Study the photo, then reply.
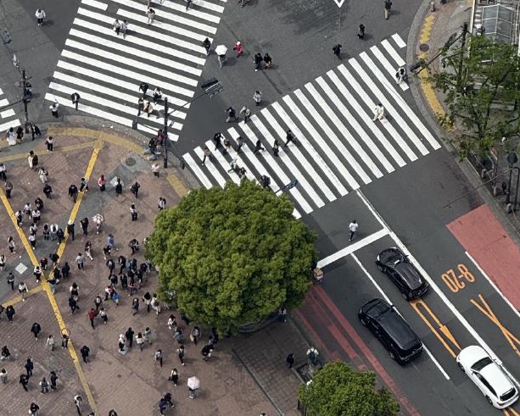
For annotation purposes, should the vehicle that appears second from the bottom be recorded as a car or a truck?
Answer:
car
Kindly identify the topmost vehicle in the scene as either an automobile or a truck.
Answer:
automobile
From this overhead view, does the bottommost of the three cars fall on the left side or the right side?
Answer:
right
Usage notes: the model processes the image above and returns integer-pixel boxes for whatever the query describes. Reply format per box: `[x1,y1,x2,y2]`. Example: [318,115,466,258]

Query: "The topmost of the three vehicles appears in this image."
[374,245,431,307]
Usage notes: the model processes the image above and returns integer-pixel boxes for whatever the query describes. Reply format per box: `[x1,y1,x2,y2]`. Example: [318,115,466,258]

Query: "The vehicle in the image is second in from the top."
[360,298,423,370]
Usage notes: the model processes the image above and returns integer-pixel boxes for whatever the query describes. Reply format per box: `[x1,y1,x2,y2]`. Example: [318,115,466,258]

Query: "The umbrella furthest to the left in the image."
[89,215,105,228]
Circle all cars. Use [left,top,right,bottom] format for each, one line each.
[360,298,423,370]
[457,344,520,413]
[374,245,431,307]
